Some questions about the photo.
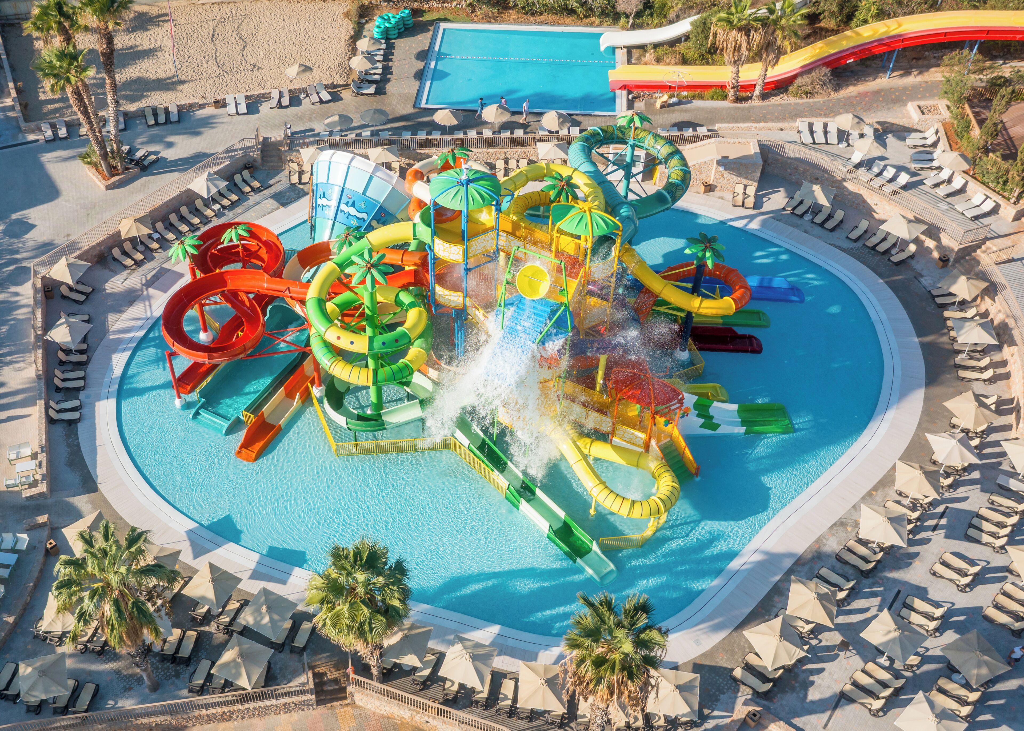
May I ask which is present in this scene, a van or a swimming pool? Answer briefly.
swimming pool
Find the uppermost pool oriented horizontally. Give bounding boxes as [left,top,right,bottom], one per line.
[428,27,613,101]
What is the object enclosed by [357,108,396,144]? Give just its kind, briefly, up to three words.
umbrella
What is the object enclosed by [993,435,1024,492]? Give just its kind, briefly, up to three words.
umbrella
